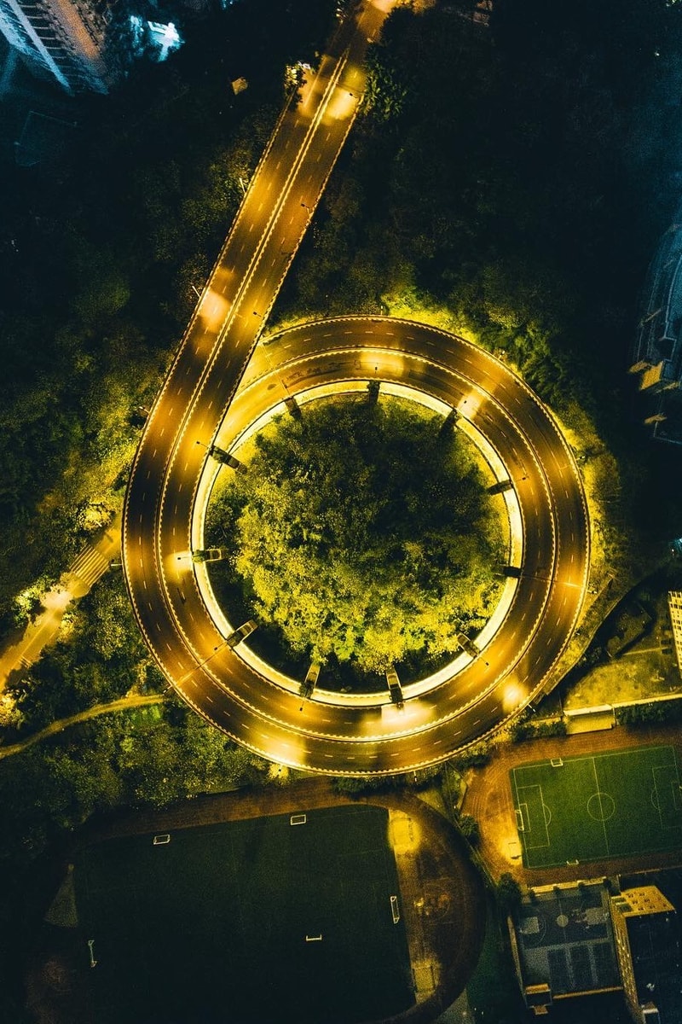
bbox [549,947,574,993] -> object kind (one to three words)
sports court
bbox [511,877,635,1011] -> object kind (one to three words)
building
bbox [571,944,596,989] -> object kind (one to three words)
sports court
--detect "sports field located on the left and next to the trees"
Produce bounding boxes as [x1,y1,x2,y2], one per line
[73,806,416,1024]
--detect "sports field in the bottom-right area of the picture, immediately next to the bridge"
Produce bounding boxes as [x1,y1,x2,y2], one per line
[510,744,682,869]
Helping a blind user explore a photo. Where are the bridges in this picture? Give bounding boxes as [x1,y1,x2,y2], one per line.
[115,74,589,777]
